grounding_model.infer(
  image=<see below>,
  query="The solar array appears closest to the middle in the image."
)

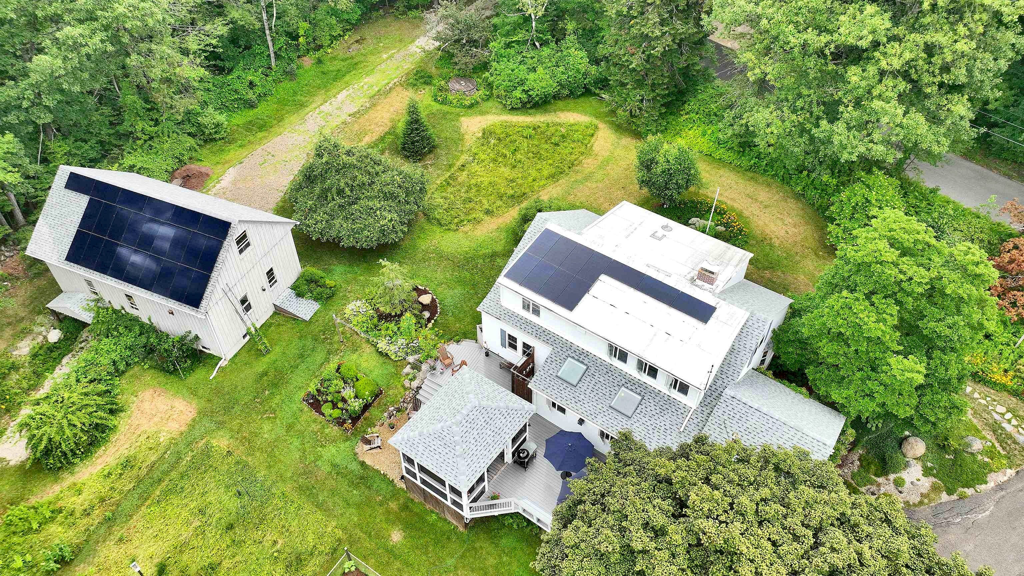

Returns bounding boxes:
[504,227,717,322]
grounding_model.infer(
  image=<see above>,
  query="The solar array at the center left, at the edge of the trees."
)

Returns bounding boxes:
[62,172,229,308]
